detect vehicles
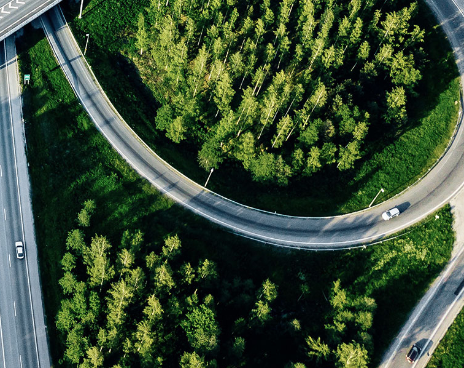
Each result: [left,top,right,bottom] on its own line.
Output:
[14,240,24,260]
[381,205,402,219]
[406,341,424,362]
